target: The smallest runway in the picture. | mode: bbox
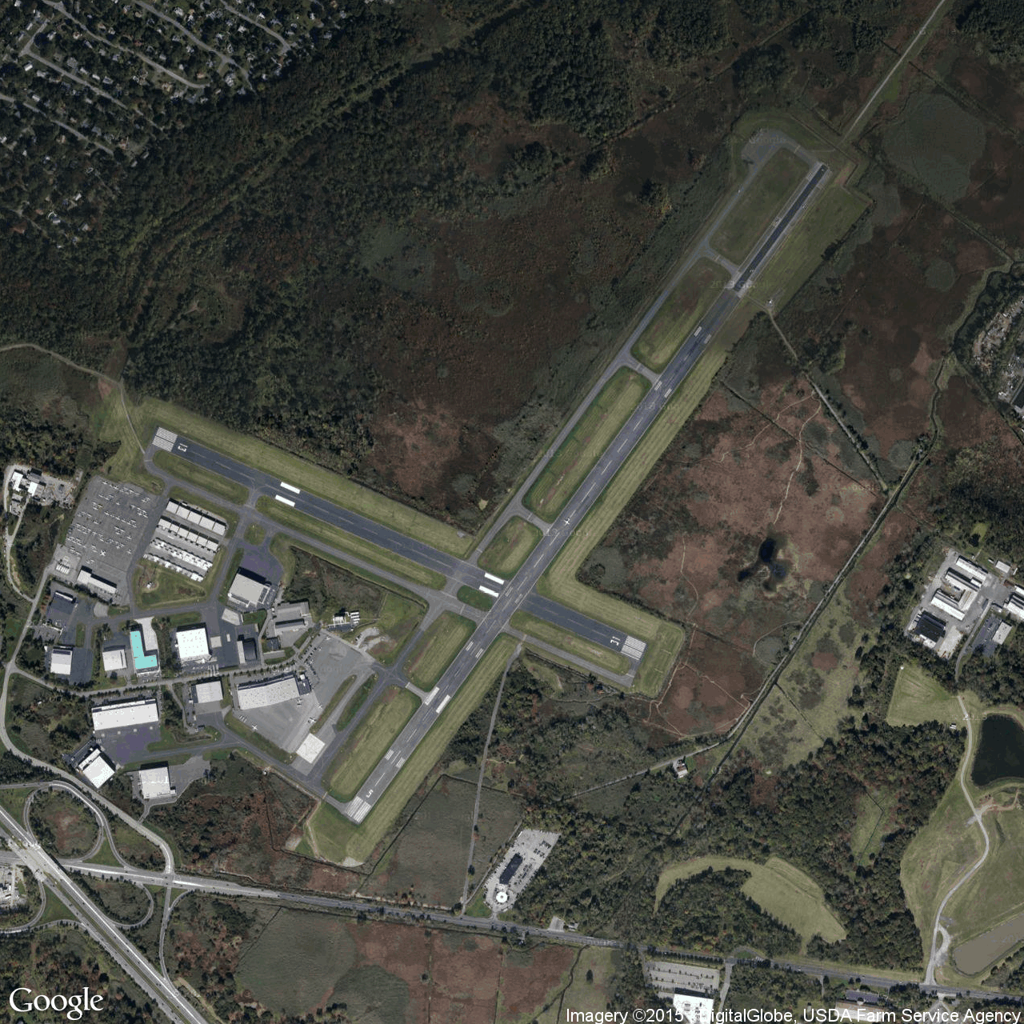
[149,426,650,662]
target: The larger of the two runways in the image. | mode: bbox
[344,163,832,823]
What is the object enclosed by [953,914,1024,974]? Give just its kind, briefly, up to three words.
pond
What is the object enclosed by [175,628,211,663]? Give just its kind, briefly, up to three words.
hangar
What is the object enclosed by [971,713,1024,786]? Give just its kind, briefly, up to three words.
pond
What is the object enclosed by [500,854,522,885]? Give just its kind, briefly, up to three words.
building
